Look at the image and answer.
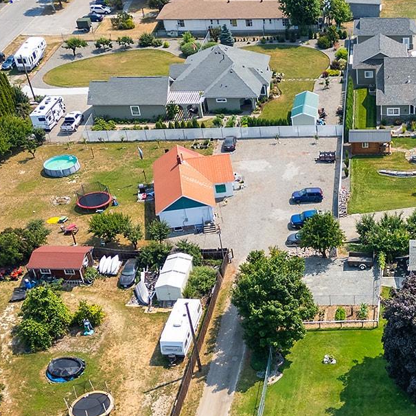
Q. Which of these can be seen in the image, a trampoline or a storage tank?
trampoline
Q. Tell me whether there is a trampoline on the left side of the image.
Yes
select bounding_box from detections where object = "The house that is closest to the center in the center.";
[153,147,235,238]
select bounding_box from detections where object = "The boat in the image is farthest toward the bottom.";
[134,285,155,304]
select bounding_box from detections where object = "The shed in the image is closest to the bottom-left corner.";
[27,243,95,283]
